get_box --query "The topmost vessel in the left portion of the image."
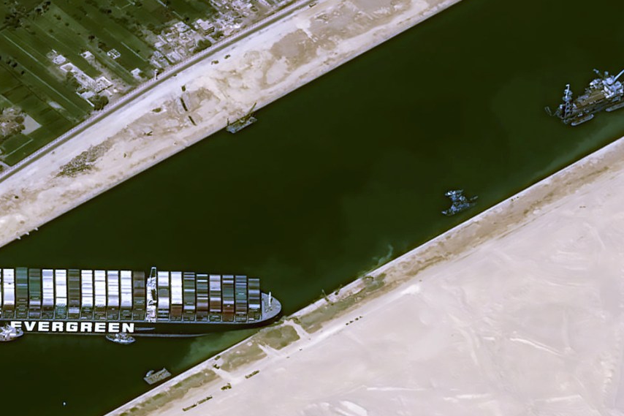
[228,110,256,134]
